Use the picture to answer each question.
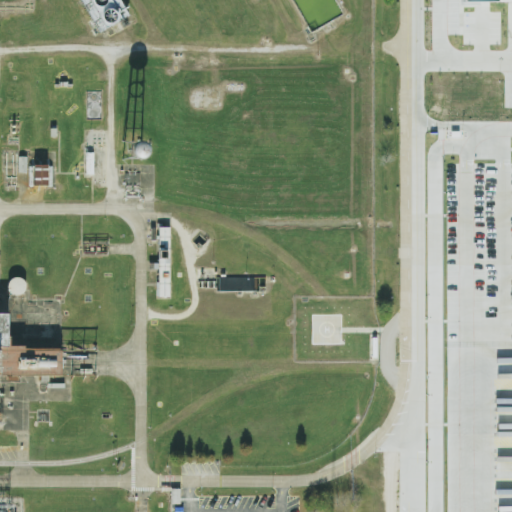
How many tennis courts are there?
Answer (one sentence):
Not a single tennis court can be seen.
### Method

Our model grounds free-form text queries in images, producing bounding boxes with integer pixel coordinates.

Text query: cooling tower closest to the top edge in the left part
[81,0,122,31]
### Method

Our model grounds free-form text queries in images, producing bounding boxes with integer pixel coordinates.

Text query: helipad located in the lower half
[312,314,344,346]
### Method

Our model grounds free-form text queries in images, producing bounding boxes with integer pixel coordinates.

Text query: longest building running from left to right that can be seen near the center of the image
[218,277,259,292]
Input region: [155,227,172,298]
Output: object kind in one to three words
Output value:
building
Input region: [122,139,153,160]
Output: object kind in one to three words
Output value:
water tower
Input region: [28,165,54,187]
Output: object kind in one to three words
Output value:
building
